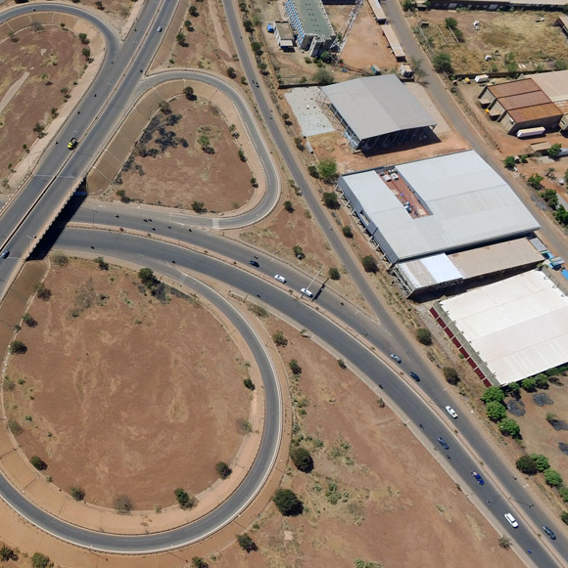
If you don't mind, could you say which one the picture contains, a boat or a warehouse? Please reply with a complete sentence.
Looking from above, you can make out a warehouse.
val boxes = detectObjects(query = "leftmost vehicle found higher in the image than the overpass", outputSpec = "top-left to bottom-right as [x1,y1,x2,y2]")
[66,137,79,151]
